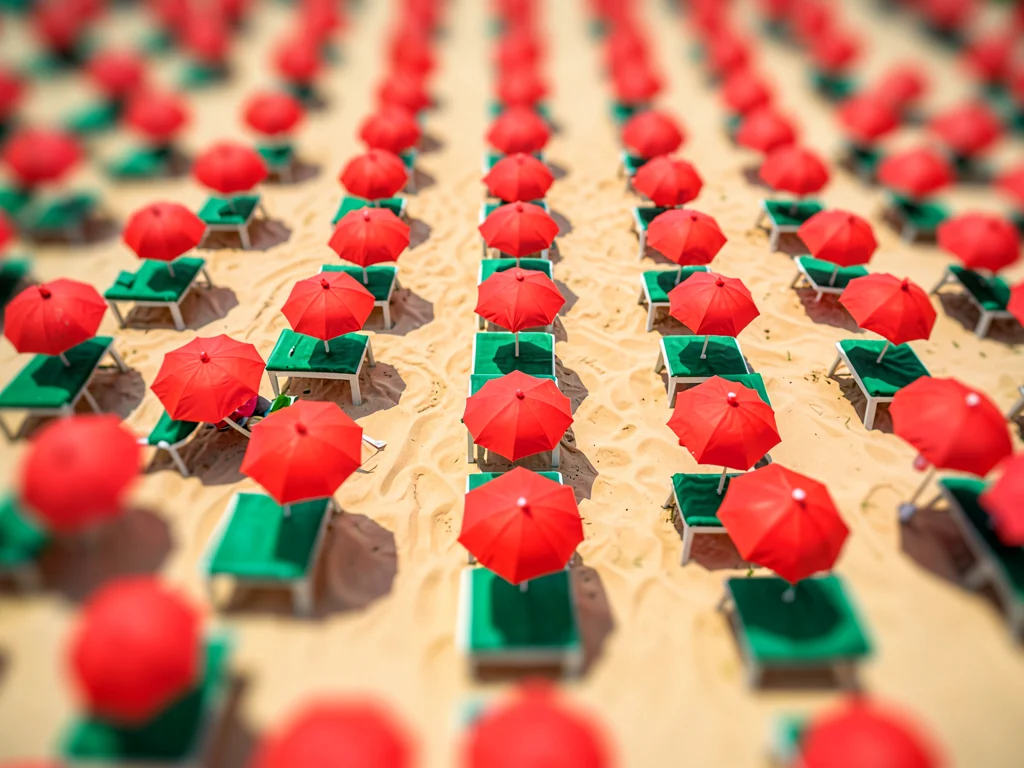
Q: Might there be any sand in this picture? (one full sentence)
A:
Yes, there is sand in the image.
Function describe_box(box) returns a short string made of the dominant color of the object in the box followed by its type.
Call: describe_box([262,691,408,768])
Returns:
red umbrella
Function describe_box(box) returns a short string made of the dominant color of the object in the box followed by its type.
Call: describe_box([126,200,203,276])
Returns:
red umbrella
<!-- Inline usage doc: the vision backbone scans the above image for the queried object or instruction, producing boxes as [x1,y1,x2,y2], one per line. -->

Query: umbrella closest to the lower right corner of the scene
[790,688,943,768]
